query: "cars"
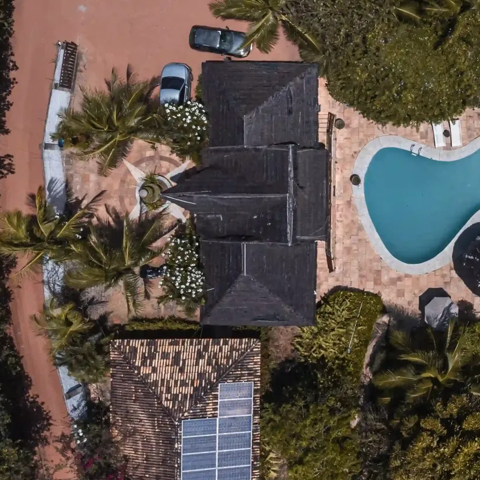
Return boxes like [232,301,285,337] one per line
[159,61,195,120]
[190,26,251,57]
